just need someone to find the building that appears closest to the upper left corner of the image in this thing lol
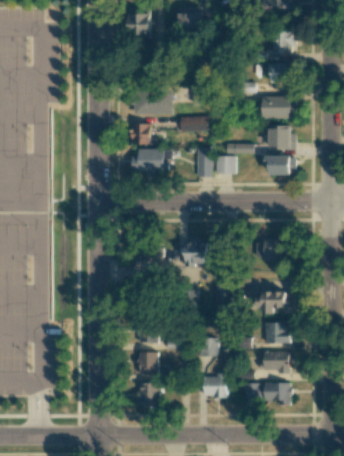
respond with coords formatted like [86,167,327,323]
[126,12,155,34]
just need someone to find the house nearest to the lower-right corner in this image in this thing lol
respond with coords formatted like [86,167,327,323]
[264,382,294,406]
